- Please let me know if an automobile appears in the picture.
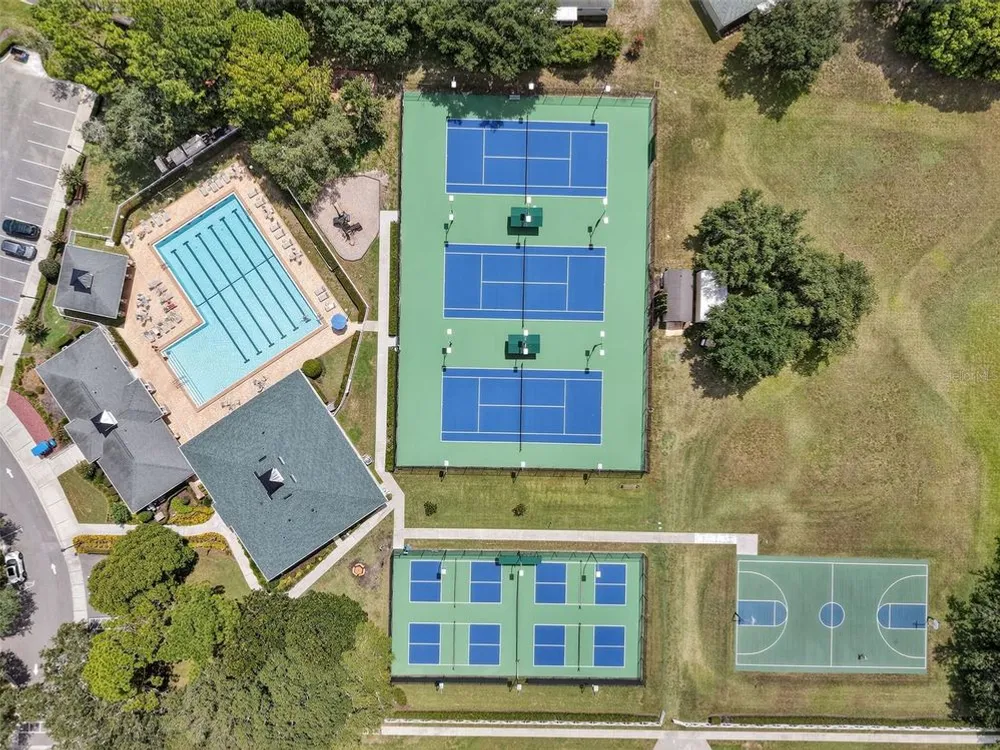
Yes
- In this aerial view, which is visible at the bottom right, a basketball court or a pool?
basketball court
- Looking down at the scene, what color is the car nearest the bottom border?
white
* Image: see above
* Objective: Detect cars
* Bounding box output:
[0,240,36,260]
[4,552,25,585]
[4,220,39,240]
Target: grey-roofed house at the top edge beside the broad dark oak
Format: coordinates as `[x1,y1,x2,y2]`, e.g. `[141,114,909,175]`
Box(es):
[697,0,774,35]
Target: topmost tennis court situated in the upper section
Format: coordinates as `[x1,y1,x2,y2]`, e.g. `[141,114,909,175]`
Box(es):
[445,111,608,202]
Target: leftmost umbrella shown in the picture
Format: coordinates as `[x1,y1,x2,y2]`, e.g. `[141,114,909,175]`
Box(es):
[331,313,348,329]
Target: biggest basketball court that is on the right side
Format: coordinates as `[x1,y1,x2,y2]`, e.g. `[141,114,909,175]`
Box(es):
[735,554,929,677]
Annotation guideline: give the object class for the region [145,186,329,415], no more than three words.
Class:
swimming pool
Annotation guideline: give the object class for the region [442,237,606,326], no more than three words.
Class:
tennis court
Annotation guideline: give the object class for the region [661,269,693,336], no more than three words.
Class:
shed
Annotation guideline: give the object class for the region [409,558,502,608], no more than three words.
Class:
sports court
